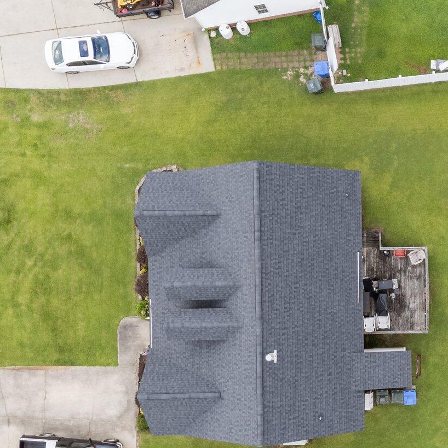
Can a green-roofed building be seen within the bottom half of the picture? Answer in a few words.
No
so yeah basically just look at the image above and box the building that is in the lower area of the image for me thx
[133,160,413,447]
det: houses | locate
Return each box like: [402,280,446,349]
[133,160,413,447]
[175,0,325,36]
